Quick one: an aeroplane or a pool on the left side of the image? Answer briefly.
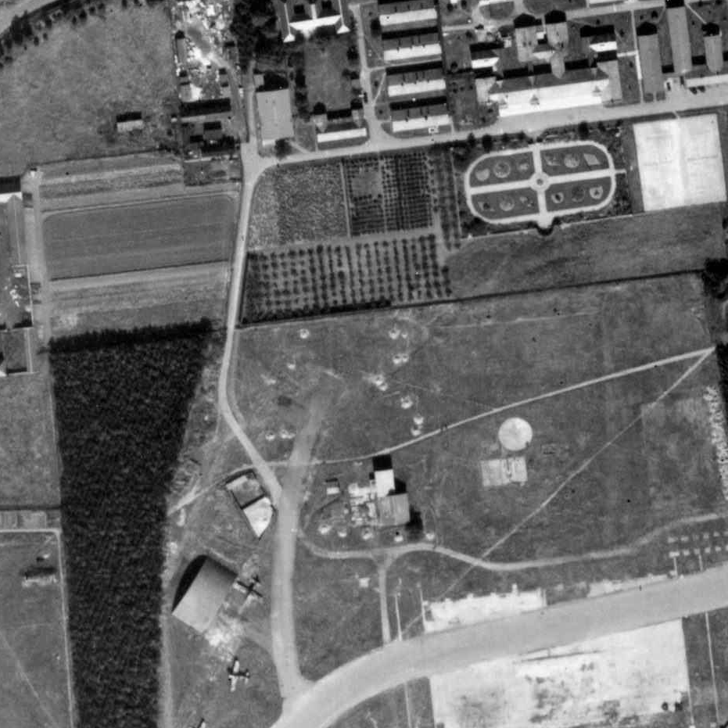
aeroplane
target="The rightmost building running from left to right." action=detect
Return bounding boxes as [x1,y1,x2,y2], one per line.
[660,67,728,89]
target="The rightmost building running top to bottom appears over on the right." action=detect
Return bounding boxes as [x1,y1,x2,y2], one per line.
[705,35,726,73]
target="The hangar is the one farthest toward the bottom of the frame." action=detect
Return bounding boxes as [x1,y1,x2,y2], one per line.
[172,559,236,633]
